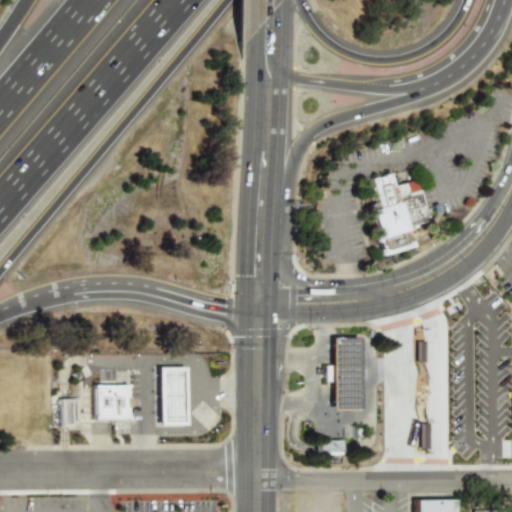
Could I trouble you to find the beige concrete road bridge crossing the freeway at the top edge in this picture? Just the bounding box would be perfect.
[243,0,296,66]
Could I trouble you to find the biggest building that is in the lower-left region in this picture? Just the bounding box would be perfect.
[94,382,132,420]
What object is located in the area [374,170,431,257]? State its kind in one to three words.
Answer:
building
